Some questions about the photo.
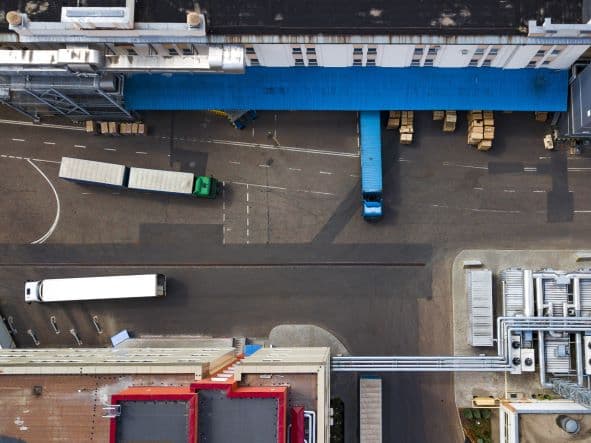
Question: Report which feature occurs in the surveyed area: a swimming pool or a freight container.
freight container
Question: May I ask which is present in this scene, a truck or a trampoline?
truck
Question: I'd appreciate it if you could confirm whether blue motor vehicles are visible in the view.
Yes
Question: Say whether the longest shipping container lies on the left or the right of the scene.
right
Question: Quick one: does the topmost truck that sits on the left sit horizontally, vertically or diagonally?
horizontally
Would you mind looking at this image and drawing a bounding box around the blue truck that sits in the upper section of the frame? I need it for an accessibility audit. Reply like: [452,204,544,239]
[360,111,384,220]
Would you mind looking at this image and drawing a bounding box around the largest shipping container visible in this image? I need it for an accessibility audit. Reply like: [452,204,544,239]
[466,269,497,346]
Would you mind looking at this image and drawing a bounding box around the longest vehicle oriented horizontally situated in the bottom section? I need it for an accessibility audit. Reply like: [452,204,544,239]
[27,273,170,303]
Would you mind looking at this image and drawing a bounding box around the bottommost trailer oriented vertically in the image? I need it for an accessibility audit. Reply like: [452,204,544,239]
[360,372,382,443]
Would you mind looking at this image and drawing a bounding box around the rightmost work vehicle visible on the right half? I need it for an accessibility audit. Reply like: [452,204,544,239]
[540,129,556,152]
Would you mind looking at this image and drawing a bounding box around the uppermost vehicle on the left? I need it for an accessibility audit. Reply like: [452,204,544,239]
[59,157,223,200]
